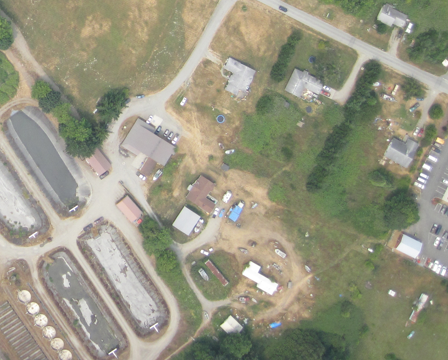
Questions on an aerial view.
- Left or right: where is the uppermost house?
right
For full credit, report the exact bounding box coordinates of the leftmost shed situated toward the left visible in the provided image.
[86,148,113,176]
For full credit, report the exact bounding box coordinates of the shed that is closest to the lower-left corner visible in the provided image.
[116,194,143,223]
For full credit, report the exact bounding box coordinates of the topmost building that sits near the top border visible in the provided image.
[378,4,407,29]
